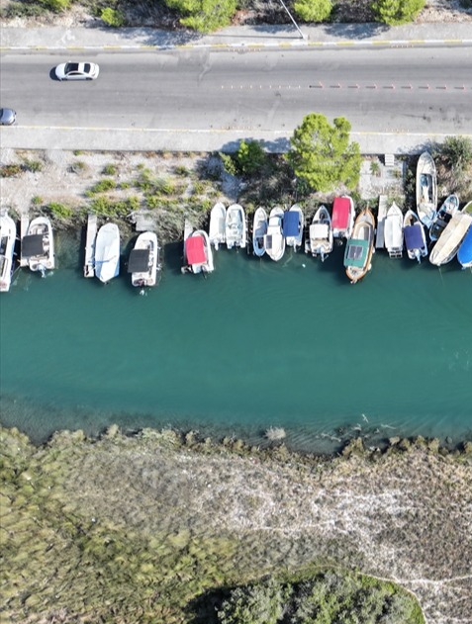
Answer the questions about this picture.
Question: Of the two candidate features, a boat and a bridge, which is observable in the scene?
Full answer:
There is a boat in the scene.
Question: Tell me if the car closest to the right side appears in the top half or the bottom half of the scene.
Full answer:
It is in the top half that the car closest to the right side appears.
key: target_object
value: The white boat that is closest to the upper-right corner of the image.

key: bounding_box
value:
[417,159,438,230]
